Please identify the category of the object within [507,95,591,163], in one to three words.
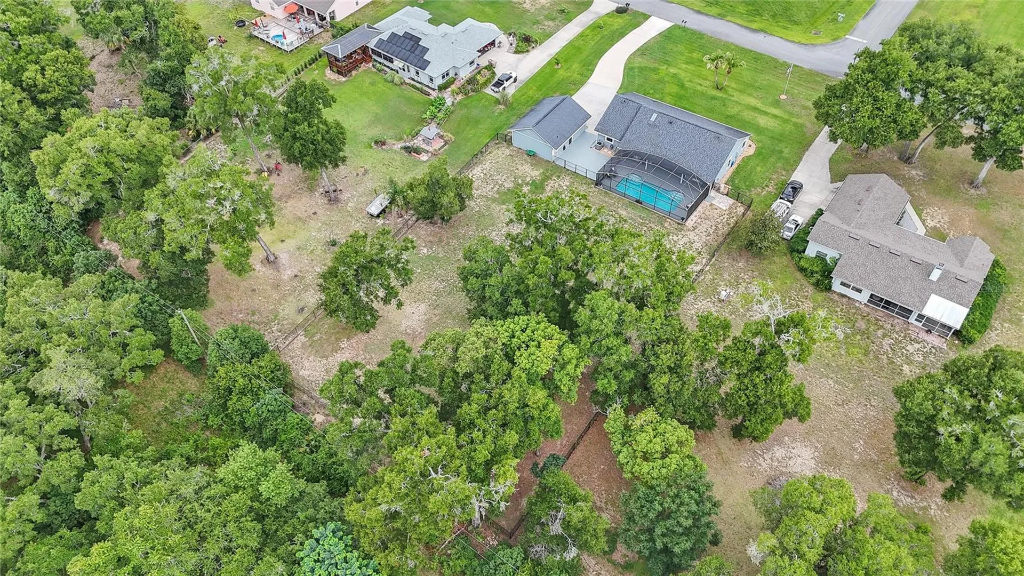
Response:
building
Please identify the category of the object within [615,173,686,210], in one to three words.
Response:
swimming pool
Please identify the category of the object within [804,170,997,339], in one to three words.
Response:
house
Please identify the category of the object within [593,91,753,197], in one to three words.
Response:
house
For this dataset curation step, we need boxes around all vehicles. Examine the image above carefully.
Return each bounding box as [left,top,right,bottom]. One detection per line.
[488,73,521,95]
[769,193,793,226]
[781,177,802,205]
[780,212,804,241]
